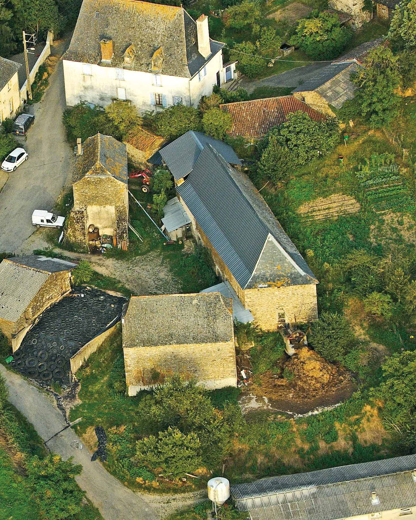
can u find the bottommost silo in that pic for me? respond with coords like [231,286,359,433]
[205,471,232,520]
